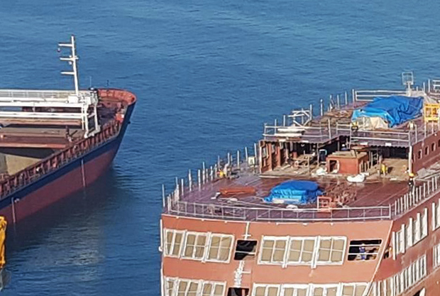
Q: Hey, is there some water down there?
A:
Yes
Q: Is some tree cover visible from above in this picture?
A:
No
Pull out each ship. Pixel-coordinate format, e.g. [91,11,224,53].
[158,69,440,296]
[0,36,128,250]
